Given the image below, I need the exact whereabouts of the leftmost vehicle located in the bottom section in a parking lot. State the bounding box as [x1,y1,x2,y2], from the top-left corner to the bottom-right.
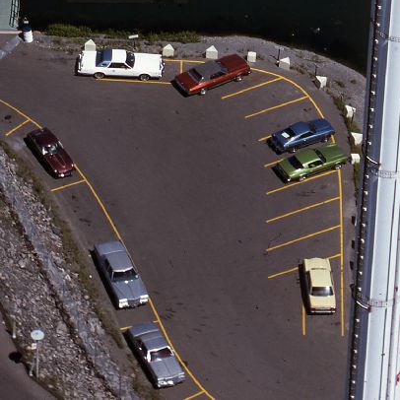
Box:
[93,240,146,307]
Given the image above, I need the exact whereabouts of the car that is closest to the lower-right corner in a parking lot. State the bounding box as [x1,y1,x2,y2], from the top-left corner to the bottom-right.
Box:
[304,259,336,314]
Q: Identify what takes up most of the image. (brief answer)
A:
paved ground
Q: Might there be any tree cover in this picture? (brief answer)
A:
No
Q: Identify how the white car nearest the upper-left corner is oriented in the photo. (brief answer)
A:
from side to side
